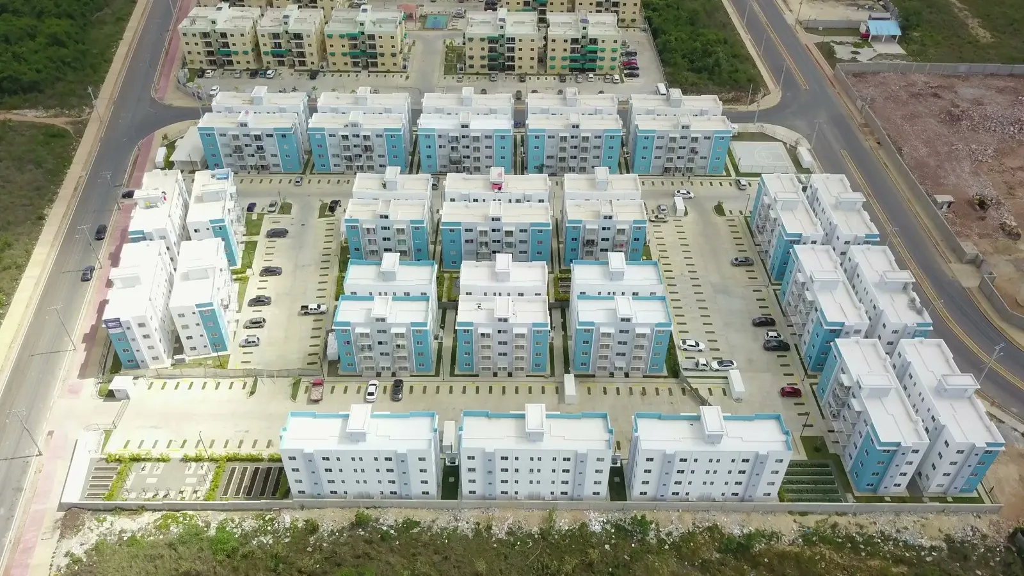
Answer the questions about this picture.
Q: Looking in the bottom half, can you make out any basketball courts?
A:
No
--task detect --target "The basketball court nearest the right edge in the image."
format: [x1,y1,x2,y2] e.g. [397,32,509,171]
[730,141,796,172]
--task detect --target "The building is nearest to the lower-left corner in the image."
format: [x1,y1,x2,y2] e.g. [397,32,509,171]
[62,429,111,499]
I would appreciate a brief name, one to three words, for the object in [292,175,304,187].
vehicle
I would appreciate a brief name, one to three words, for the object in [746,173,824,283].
building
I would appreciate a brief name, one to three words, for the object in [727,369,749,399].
shed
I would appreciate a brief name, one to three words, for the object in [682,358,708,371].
vehicle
